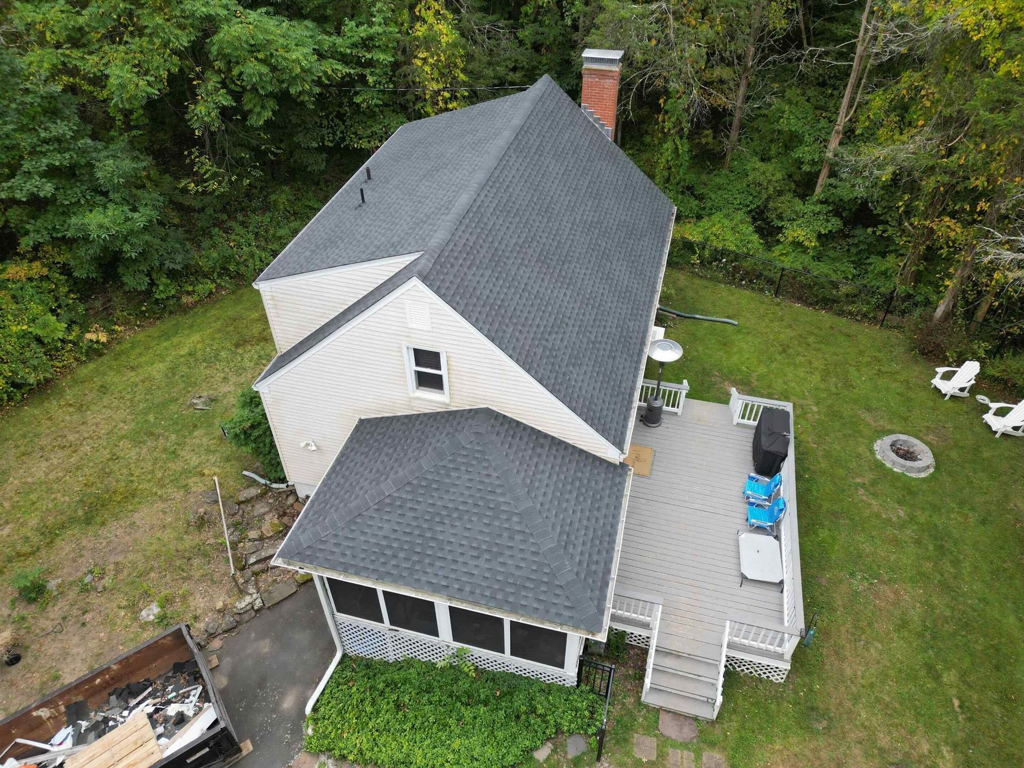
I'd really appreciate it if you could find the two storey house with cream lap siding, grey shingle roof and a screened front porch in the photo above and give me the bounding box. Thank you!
[251,44,677,720]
